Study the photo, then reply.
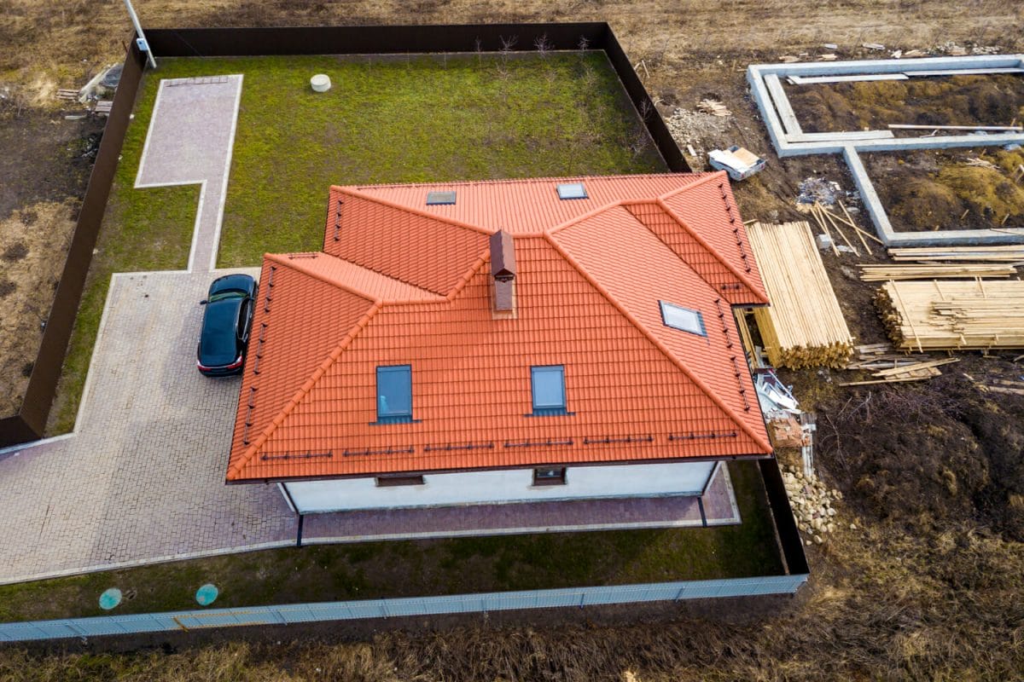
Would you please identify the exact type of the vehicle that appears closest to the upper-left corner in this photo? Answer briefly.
car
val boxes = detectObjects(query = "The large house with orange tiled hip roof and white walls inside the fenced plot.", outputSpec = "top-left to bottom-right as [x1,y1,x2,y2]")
[219,166,779,519]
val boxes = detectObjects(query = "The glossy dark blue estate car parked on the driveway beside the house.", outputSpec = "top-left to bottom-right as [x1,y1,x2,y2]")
[195,269,258,376]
